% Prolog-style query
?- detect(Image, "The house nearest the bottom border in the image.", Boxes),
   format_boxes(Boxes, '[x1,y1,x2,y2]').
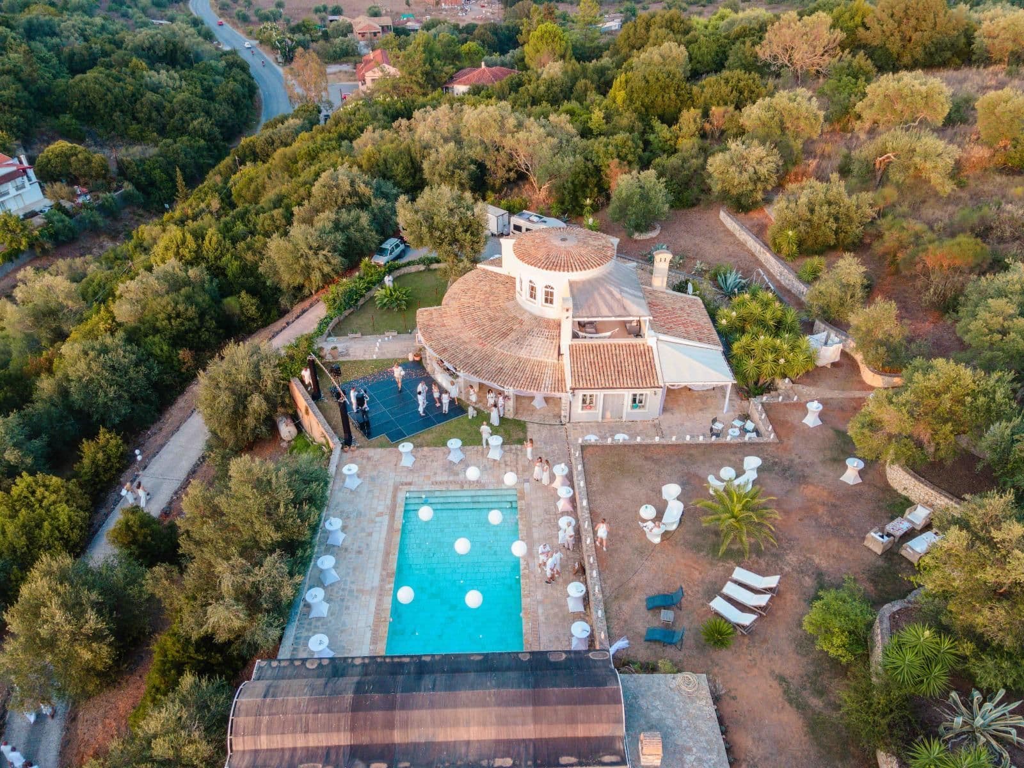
[412,228,725,426]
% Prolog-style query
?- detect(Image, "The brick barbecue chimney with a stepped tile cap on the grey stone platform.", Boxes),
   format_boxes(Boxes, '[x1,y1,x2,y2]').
[641,730,670,767]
